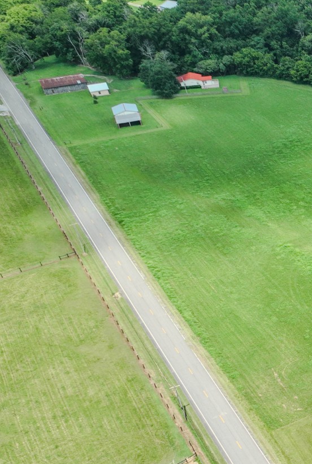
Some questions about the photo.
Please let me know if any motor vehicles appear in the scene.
No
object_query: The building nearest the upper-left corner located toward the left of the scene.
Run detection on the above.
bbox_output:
[41,76,88,95]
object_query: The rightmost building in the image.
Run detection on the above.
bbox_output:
[179,71,222,87]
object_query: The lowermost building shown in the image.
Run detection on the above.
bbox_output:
[114,107,142,129]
